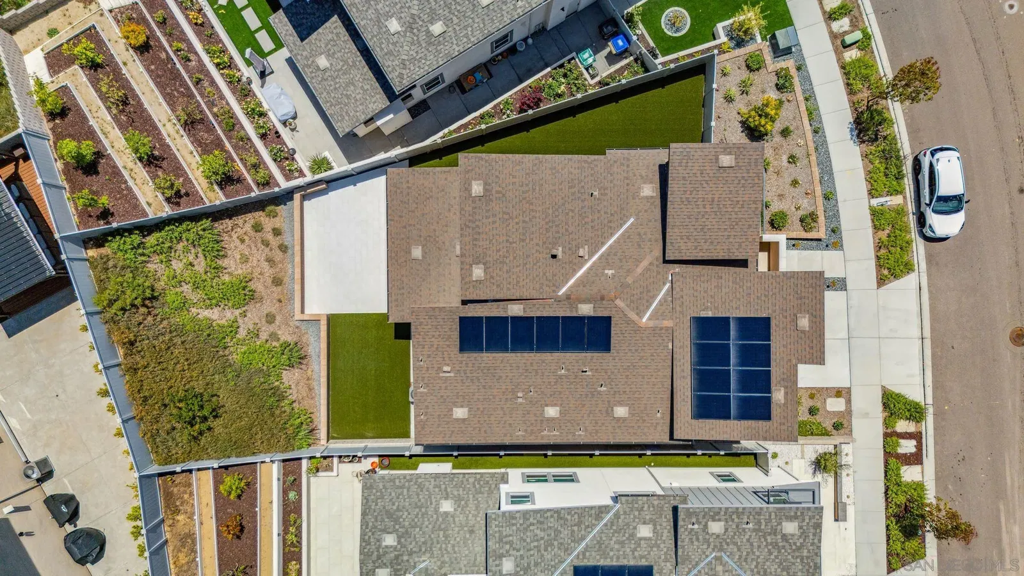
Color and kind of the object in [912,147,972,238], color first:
white car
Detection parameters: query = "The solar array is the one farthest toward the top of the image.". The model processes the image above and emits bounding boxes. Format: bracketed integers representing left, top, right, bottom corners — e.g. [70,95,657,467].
[459,316,611,352]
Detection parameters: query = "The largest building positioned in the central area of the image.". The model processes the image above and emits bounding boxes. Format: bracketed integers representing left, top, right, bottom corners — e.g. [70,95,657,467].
[386,143,824,446]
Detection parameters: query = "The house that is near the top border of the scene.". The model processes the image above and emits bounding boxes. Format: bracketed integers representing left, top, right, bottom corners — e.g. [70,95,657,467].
[267,0,596,137]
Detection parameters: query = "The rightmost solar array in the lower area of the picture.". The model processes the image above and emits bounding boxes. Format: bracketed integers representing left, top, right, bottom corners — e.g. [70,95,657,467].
[691,317,771,420]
